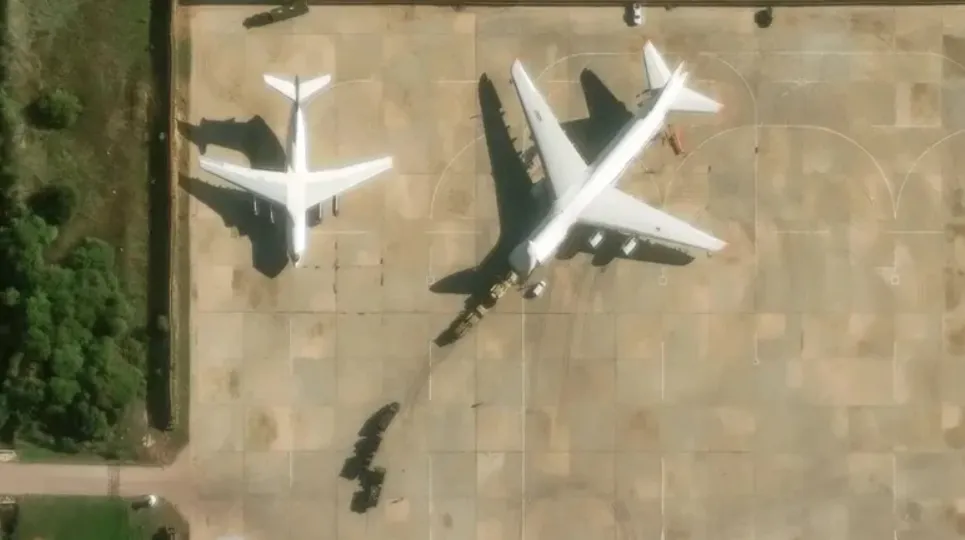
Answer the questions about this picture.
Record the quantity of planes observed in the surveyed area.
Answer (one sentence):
I count 2 planes.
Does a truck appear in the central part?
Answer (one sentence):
Yes, a truck is visible in the central part.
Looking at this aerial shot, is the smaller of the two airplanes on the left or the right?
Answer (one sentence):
You can find the smaller of the two airplanes on the left side of the picture.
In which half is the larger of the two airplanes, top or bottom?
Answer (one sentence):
You can find the larger of the two airplanes in the top half.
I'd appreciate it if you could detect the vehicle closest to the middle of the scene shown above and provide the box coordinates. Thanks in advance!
[489,266,524,304]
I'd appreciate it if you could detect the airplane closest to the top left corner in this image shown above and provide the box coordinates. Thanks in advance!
[199,74,392,266]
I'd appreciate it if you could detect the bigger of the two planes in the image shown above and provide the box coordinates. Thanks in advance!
[510,41,728,281]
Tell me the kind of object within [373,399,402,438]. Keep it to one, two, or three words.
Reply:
truck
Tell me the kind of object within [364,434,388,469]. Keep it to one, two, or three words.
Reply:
truck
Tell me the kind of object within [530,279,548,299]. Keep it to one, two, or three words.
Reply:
vehicle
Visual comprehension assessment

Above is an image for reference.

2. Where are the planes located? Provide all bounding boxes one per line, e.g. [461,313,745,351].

[199,74,392,266]
[510,41,728,281]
